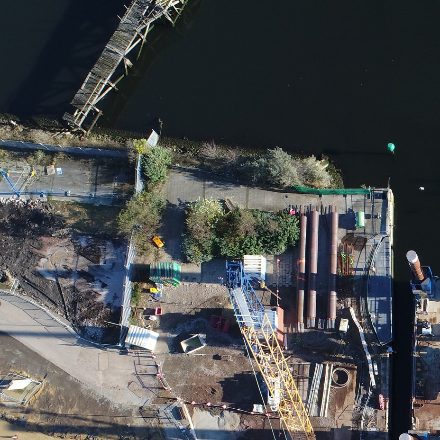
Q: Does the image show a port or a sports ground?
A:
port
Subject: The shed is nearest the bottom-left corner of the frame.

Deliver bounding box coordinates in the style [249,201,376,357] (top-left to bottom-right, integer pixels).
[125,325,167,354]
